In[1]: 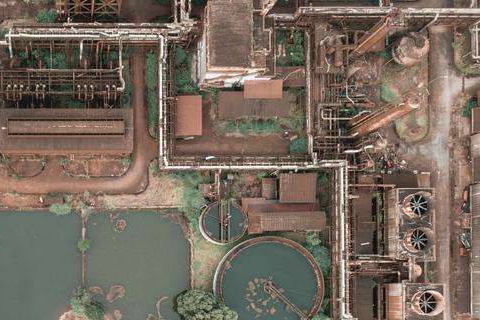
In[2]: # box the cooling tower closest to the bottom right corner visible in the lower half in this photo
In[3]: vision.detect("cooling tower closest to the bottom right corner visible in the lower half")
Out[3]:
[400,283,450,320]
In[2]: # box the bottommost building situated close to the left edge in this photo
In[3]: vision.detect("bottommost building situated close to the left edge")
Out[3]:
[0,107,134,158]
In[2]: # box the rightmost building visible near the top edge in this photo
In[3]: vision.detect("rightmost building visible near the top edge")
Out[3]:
[194,0,267,94]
